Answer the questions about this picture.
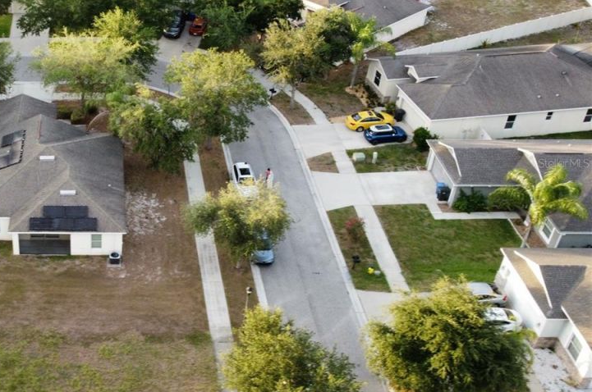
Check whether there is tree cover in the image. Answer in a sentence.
Yes, the picture does contain tree cover.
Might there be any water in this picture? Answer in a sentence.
No, there's no water in this view.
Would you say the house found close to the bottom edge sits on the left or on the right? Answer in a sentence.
The house found close to the bottom edge appears in the right half of the scene.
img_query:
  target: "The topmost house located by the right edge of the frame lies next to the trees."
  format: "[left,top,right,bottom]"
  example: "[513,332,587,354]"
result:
[363,45,592,140]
